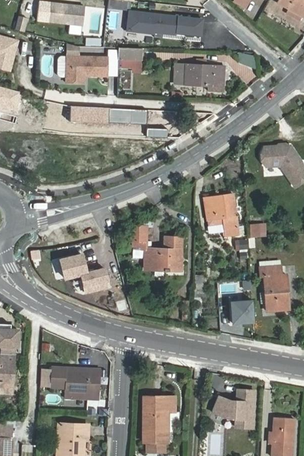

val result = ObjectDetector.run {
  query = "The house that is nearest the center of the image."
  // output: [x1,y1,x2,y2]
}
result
[134,224,185,277]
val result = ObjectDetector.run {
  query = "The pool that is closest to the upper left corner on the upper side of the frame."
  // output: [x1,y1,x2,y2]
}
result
[40,54,55,78]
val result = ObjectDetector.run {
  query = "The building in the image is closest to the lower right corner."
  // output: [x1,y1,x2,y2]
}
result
[268,418,298,456]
